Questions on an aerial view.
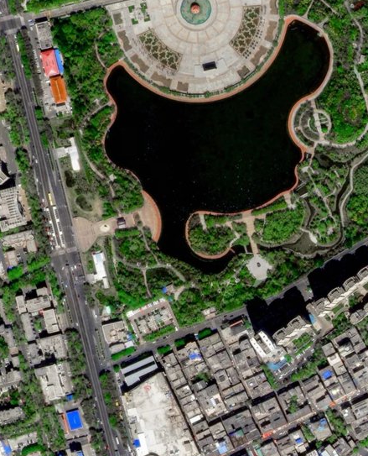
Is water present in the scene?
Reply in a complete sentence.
Yes, some water is visible.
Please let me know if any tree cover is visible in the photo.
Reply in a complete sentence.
Yes, some tree cover is visible.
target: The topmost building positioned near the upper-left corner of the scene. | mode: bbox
[36,21,54,51]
